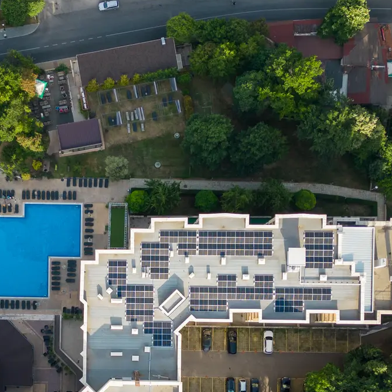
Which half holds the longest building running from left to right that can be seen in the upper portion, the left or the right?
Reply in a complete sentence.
The longest building running from left to right that can be seen in the upper portion appears in the left half of the scene.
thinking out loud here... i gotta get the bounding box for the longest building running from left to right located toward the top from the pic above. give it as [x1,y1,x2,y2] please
[76,33,179,90]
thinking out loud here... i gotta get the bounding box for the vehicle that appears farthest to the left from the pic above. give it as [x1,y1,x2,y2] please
[98,0,120,12]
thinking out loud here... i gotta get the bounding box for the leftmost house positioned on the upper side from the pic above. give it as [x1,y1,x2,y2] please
[57,120,105,157]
